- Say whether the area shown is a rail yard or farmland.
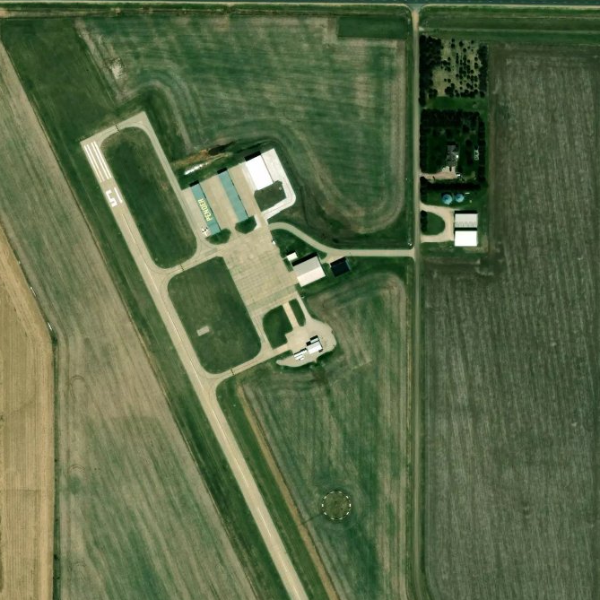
farmland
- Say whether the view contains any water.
No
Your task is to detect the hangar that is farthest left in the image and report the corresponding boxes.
[192,184,220,234]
